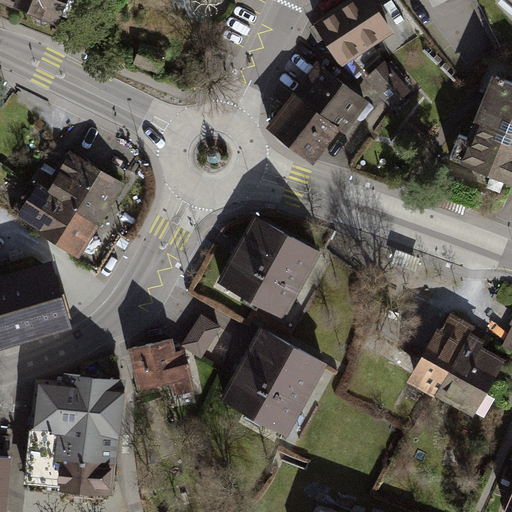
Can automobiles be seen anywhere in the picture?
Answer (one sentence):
Yes, I can see an automobile in this picture.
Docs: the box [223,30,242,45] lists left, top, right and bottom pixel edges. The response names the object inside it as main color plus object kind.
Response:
white car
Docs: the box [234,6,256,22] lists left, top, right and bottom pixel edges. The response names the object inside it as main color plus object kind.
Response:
white car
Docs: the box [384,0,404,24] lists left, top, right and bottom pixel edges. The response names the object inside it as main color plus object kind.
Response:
white vehicle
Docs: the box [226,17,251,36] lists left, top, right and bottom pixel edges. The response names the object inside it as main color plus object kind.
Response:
white vehicle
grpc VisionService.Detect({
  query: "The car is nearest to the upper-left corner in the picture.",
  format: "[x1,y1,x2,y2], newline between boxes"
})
[84,126,99,148]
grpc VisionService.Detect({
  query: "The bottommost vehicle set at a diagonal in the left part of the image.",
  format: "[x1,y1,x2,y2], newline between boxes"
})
[101,256,118,276]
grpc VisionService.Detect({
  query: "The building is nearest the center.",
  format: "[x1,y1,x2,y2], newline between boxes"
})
[217,214,320,318]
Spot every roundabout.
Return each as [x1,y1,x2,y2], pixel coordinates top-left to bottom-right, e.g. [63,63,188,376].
[144,82,294,232]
